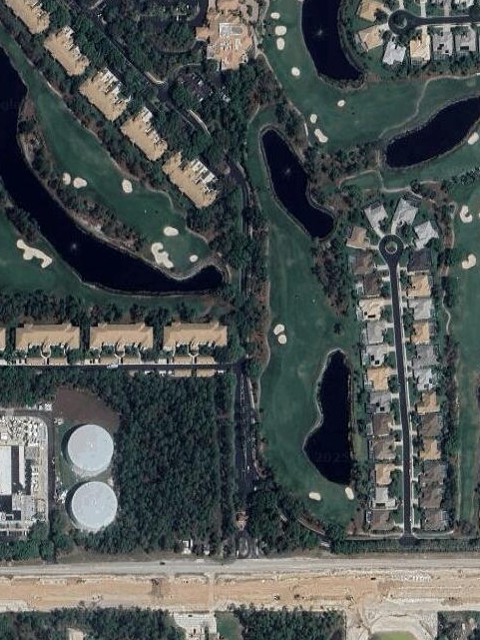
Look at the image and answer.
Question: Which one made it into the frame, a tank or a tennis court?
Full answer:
This aerial view contains a tank.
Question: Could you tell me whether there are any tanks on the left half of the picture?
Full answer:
Yes, you'll find a tank on the left half of the picture.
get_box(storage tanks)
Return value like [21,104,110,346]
[65,425,113,476]
[69,482,117,533]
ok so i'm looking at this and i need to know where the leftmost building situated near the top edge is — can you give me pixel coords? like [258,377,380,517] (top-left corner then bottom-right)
[6,0,49,31]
